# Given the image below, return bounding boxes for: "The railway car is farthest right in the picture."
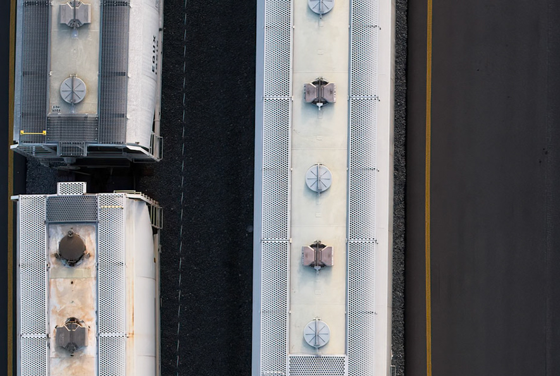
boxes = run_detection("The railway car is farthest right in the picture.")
[254,0,401,376]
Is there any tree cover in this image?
No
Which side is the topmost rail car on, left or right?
left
